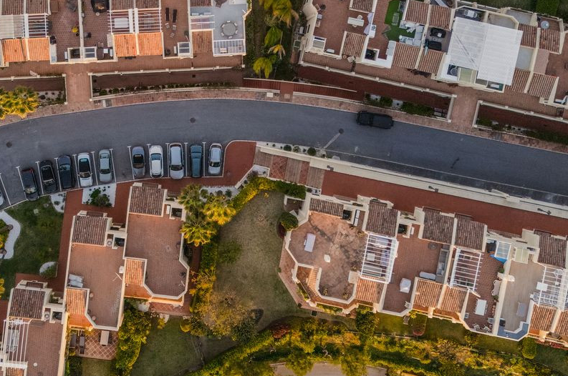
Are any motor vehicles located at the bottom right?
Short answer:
No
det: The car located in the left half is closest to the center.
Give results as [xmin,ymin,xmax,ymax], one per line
[207,143,224,176]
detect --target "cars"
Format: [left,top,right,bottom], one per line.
[189,144,205,177]
[207,143,224,176]
[97,150,114,183]
[148,144,164,176]
[56,154,74,190]
[356,110,394,128]
[131,145,146,177]
[169,143,184,180]
[38,158,57,193]
[77,153,94,186]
